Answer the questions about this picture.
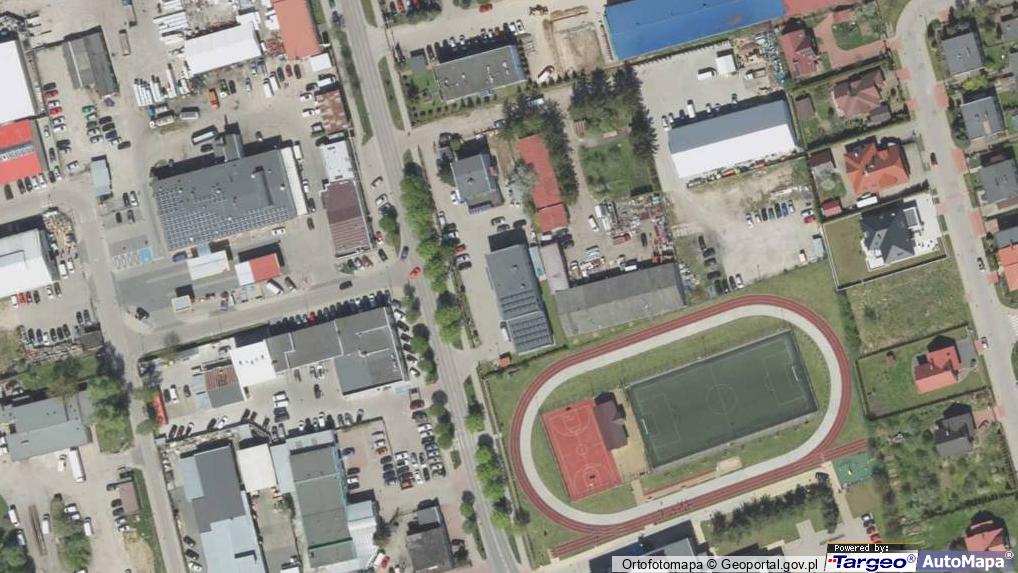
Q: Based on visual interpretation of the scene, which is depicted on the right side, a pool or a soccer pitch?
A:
soccer pitch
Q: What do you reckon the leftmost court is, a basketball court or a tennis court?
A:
basketball court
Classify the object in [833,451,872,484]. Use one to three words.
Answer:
playground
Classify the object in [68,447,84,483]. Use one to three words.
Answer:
vehicle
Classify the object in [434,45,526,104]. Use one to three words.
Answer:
building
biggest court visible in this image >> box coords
[542,400,623,501]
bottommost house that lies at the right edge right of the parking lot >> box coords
[964,528,1009,560]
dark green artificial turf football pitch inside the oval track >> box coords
[630,331,817,469]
